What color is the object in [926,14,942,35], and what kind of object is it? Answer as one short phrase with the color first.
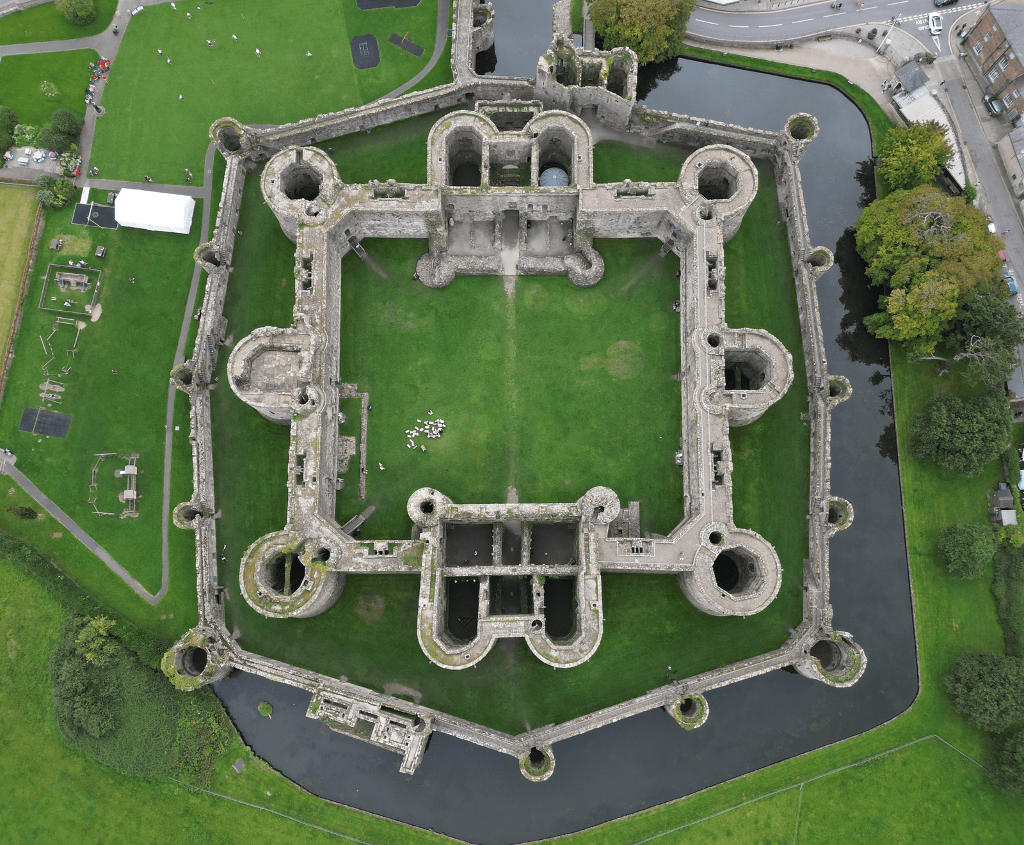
white car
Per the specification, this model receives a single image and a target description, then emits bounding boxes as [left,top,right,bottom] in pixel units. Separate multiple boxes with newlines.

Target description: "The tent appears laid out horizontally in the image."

[115,190,199,239]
